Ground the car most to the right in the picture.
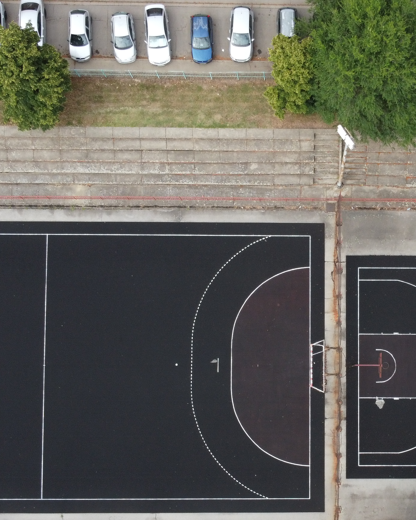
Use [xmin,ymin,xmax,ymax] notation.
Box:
[273,8,298,43]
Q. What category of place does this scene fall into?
sports ground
